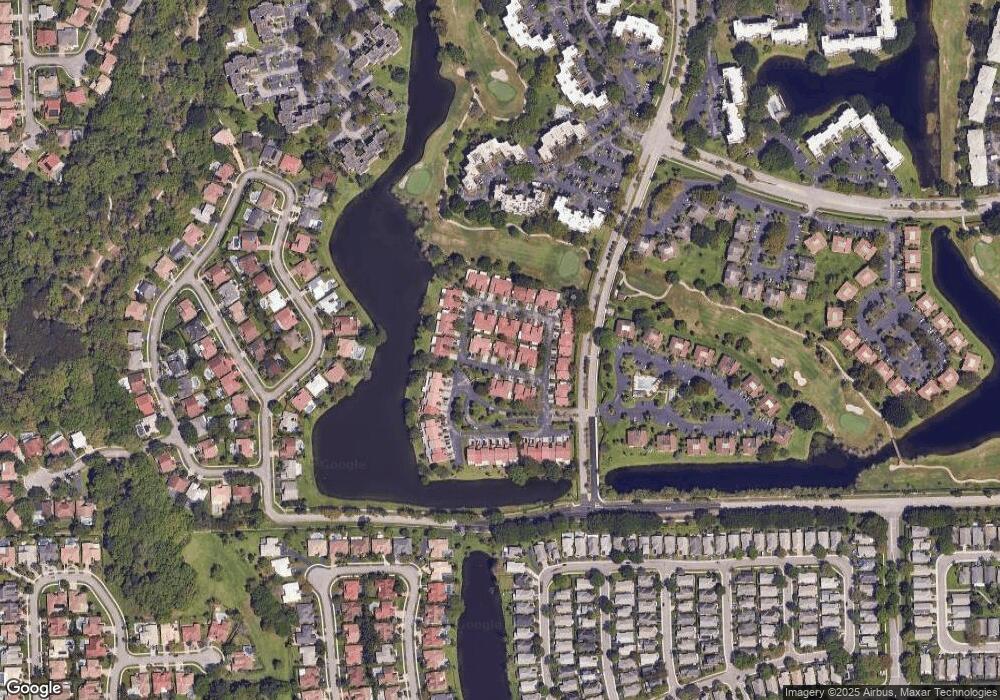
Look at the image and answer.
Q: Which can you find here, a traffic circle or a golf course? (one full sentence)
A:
This aerial view contains a golf course.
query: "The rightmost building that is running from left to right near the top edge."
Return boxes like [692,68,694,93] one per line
[822,33,882,56]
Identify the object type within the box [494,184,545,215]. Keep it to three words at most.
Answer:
building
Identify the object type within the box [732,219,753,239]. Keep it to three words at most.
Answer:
house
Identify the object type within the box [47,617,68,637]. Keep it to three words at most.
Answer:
house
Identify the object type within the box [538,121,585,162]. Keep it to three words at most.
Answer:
building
